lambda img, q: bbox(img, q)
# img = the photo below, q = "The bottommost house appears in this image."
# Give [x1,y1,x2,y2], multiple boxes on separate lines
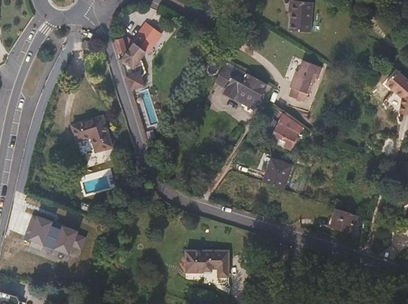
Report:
[180,250,229,280]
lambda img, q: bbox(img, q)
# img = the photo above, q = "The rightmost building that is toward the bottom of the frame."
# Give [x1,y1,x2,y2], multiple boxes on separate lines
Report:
[329,209,357,231]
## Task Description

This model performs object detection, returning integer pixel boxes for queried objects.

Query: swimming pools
[134,87,158,130]
[80,168,114,197]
